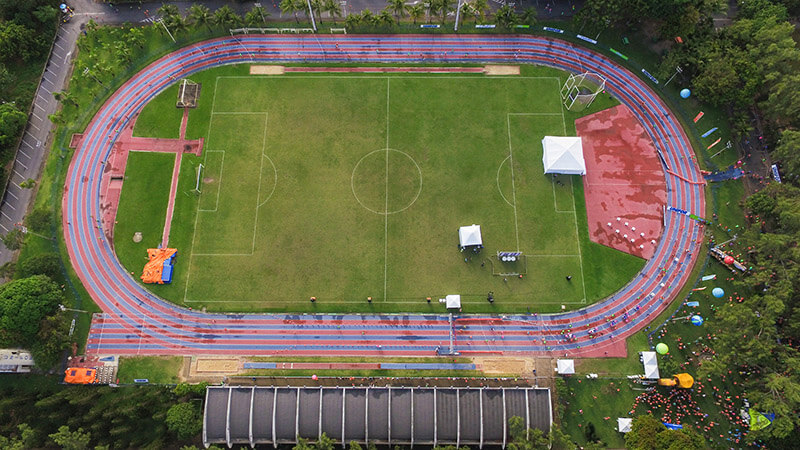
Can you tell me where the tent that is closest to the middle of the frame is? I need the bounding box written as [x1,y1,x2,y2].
[458,226,481,248]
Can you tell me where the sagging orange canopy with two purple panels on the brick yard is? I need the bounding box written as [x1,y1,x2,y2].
[64,366,102,383]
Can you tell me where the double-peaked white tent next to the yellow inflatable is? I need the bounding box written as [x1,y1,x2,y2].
[638,352,659,378]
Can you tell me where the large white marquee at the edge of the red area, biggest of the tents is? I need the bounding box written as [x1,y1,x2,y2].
[541,136,585,178]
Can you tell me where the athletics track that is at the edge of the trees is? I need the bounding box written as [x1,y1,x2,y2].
[61,34,706,357]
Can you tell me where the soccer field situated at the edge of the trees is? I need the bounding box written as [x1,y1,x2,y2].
[177,73,593,308]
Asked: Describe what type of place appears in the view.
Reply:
sports ground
